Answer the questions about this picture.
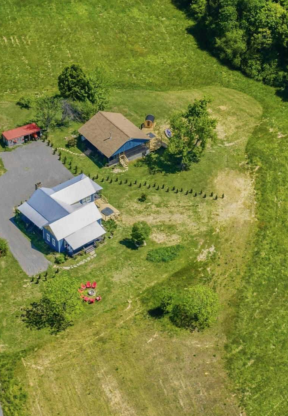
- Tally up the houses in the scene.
2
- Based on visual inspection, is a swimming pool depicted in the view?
No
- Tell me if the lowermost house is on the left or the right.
left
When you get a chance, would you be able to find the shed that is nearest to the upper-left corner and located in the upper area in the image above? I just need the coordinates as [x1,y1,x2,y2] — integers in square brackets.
[2,122,41,147]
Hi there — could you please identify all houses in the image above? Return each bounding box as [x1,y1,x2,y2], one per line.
[78,112,152,166]
[19,173,126,256]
